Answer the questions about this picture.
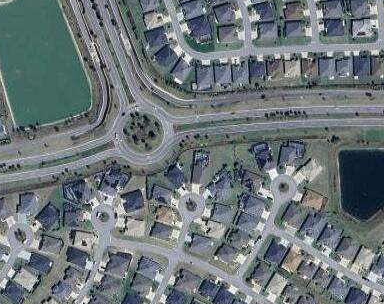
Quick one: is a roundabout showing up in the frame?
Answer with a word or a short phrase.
Yes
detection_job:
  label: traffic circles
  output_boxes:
[114,103,173,161]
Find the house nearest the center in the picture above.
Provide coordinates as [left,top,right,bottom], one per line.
[190,151,208,178]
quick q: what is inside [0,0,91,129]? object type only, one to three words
pond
